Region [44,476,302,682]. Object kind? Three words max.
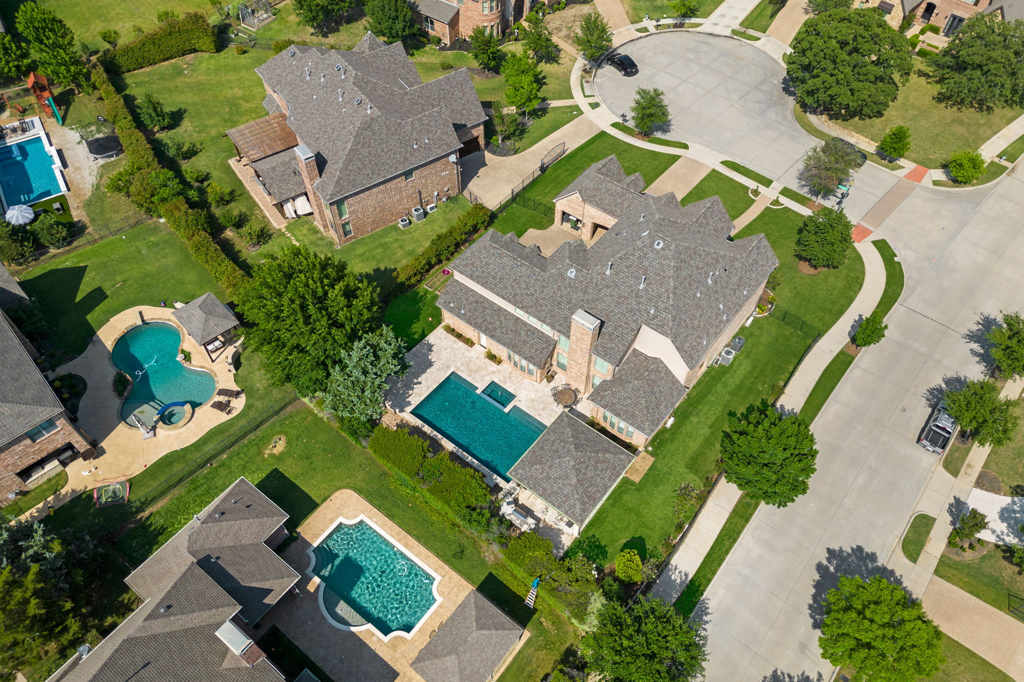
house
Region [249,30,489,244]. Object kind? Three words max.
house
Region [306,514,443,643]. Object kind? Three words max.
swimming pool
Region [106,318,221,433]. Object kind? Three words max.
swimming pool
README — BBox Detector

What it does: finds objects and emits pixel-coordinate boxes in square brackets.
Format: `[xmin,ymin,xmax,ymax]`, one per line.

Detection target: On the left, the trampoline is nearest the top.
[78,114,123,155]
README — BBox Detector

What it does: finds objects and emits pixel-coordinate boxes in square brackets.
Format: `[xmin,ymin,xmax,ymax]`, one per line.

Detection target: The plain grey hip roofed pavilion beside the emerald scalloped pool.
[408,588,530,682]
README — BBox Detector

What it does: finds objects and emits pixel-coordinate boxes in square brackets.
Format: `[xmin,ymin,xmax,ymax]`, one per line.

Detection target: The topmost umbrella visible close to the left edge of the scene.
[3,205,38,232]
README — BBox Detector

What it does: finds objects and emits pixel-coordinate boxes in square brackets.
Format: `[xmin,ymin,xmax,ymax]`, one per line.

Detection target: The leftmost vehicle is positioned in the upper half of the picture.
[610,54,638,72]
